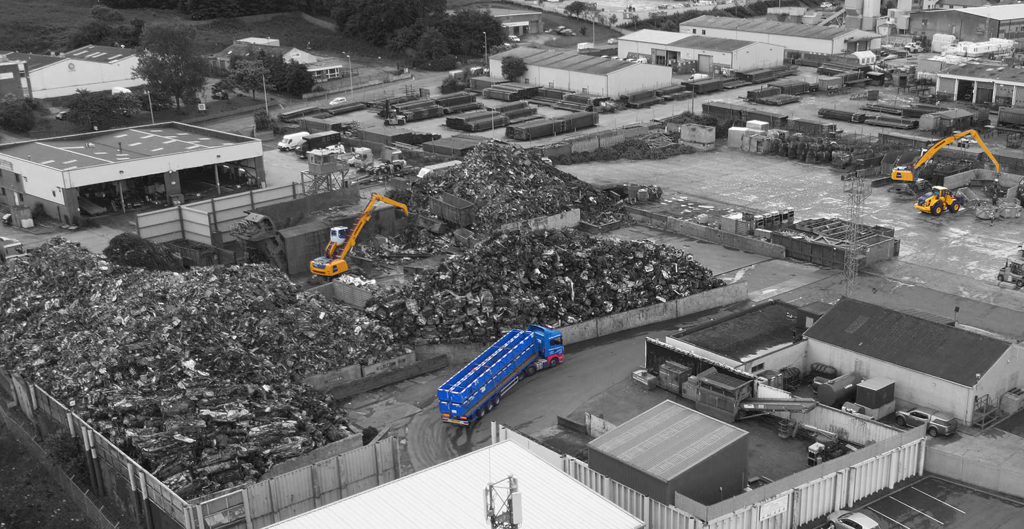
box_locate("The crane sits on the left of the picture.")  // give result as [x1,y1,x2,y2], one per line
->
[311,190,419,282]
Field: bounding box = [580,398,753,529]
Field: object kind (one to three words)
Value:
shed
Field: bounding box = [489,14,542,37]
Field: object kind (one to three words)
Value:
building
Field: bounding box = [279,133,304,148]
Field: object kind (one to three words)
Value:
vehicle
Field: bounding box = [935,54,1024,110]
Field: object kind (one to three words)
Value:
building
